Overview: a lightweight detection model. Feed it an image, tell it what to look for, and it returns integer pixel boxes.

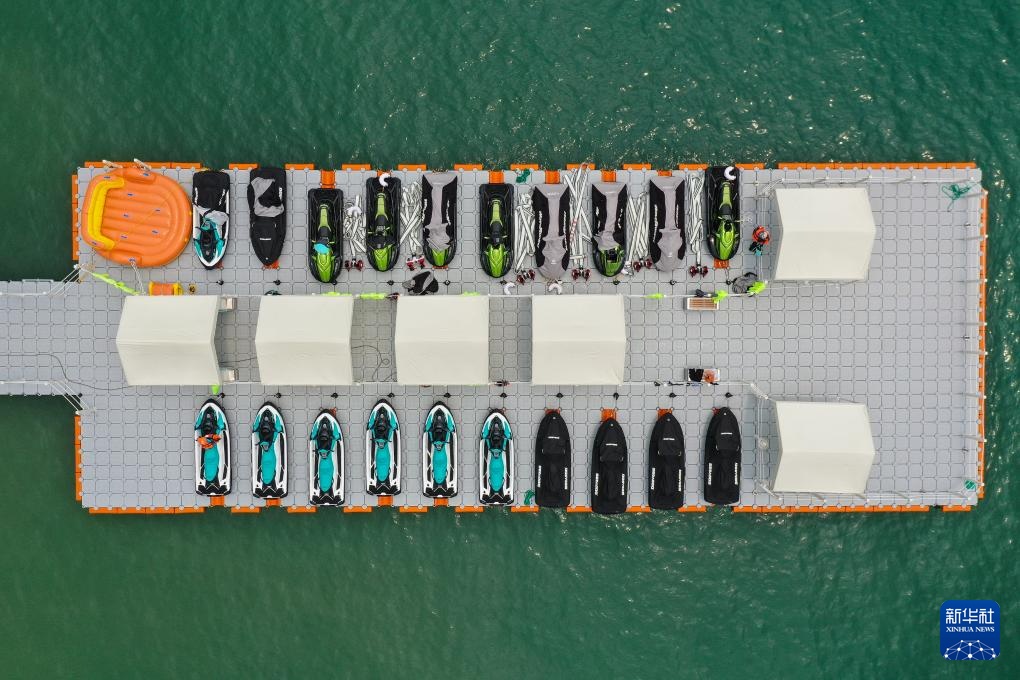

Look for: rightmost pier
[74,163,985,513]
